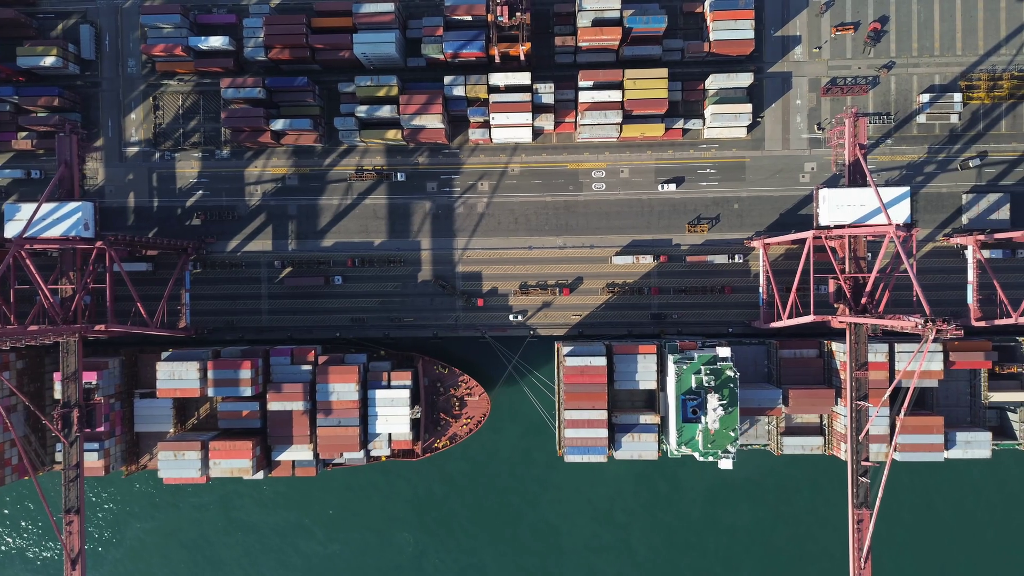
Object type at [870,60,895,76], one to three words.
work vehicle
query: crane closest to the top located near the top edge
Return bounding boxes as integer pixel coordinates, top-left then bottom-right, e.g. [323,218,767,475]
[488,0,532,69]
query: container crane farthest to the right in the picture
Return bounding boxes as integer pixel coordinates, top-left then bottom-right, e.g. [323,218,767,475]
[944,236,1024,327]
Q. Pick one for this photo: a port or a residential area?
port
